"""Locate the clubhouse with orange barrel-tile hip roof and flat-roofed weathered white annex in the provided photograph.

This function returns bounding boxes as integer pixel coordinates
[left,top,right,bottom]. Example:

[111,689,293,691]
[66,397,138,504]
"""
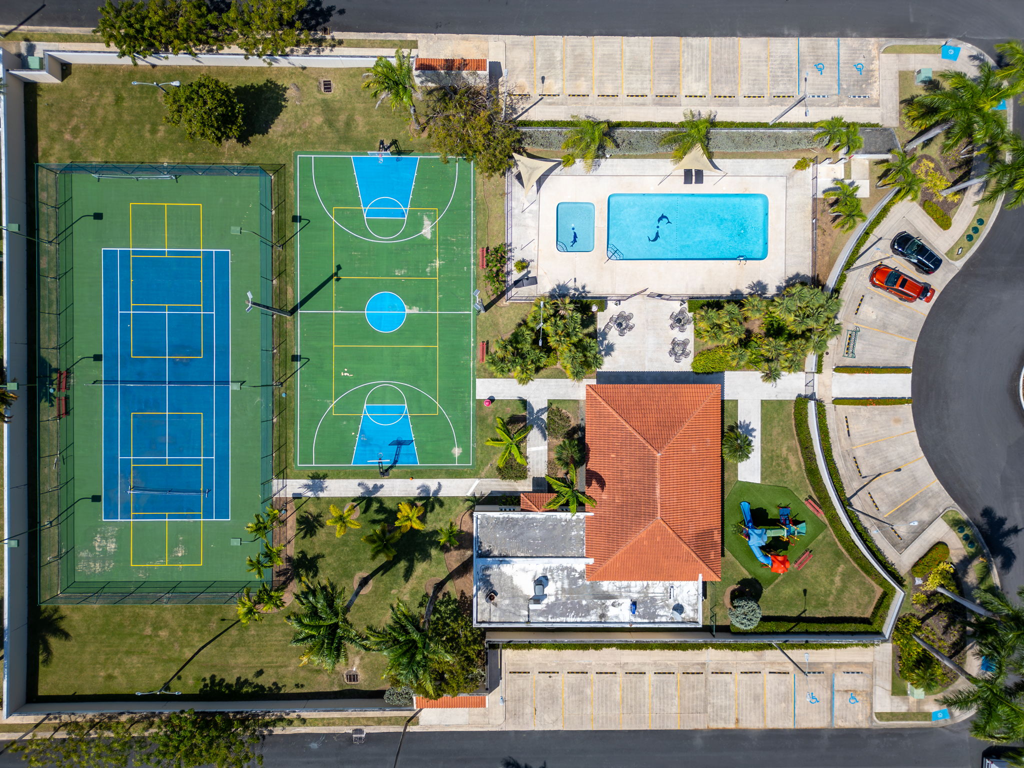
[473,383,723,626]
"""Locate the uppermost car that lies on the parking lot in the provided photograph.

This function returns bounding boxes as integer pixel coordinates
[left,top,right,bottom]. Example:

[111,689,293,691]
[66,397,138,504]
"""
[887,231,947,275]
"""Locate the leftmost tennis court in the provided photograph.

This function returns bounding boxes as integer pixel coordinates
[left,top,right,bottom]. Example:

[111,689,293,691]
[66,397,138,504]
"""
[59,173,261,595]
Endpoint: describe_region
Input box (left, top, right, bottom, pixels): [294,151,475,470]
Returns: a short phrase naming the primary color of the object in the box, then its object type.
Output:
green basketball court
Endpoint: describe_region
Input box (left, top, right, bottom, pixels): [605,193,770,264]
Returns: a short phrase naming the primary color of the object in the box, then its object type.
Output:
blue swimming pool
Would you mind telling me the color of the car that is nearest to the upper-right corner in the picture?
black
